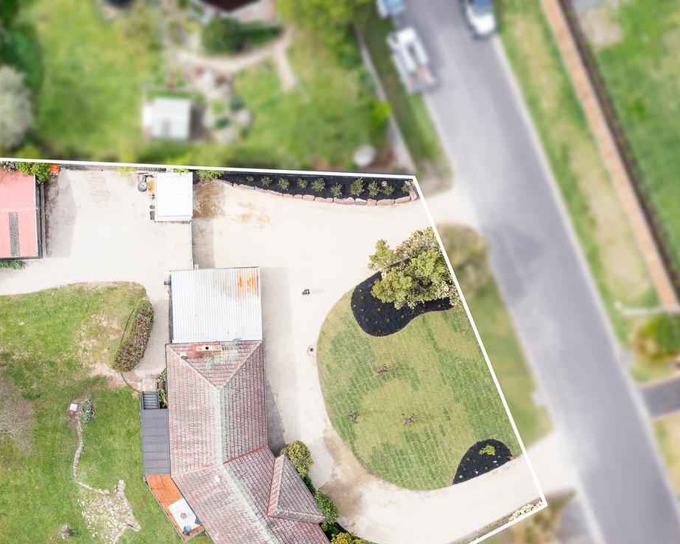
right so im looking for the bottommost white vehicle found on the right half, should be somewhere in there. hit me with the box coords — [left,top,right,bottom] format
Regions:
[391,27,439,94]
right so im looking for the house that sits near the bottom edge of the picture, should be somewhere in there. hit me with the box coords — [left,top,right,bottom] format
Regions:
[165,340,326,544]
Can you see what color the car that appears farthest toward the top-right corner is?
white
